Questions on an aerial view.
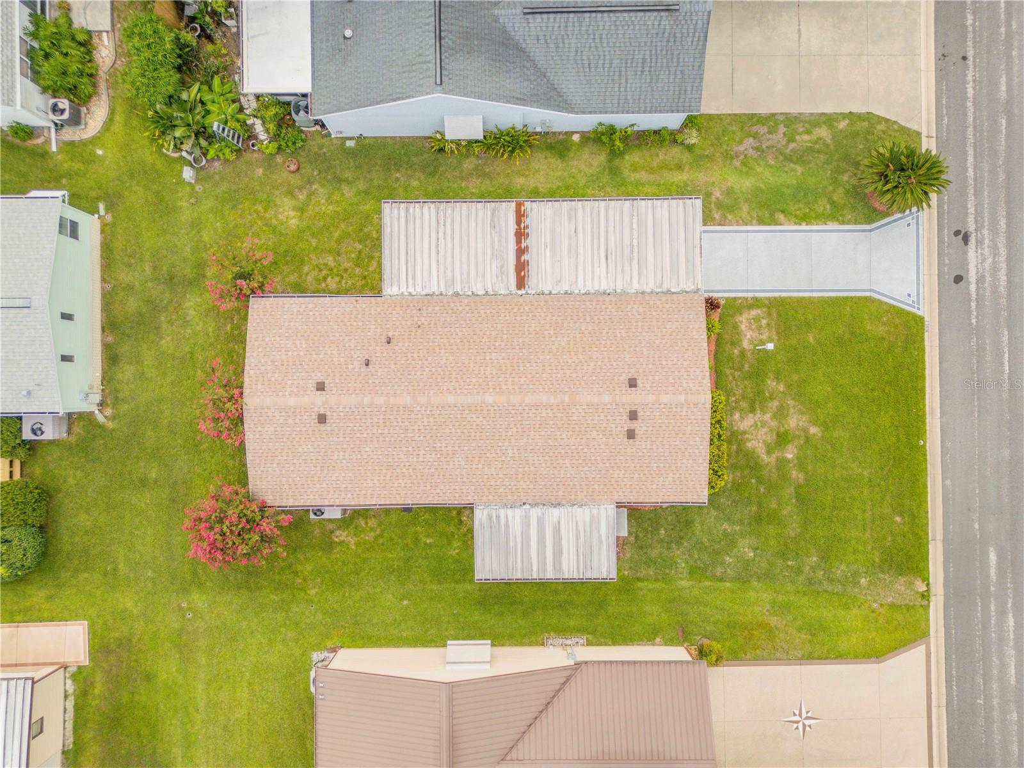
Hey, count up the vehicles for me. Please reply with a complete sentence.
No vehicles are visible.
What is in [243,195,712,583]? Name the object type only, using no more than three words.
house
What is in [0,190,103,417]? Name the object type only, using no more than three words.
house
